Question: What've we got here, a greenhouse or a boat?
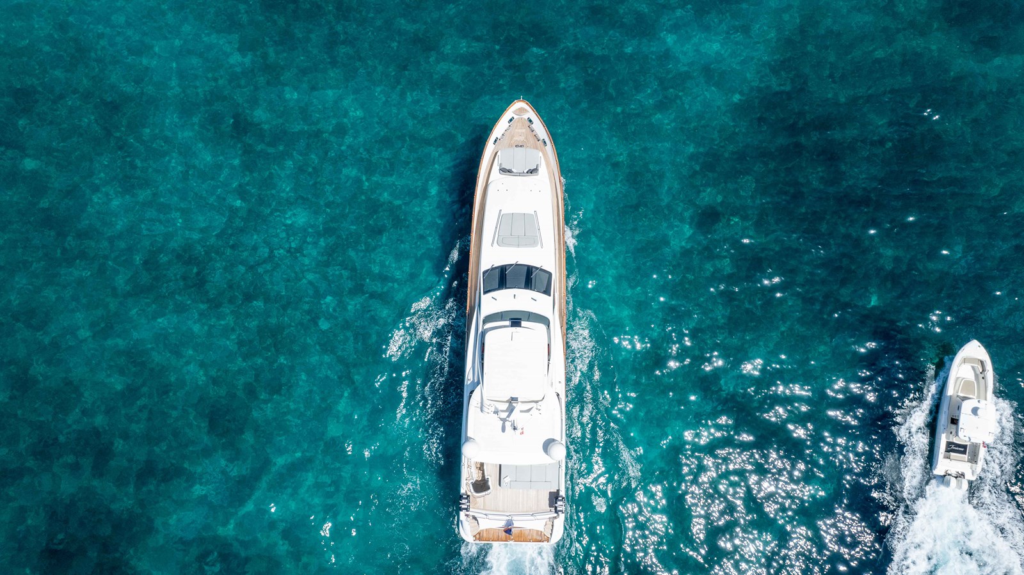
boat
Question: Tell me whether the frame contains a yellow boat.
No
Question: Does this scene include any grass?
No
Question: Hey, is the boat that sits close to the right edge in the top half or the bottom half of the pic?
bottom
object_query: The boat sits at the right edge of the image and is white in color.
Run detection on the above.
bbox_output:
[926,339,996,492]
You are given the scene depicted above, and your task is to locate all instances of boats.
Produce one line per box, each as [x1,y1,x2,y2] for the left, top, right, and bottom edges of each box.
[926,339,996,492]
[460,95,566,544]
